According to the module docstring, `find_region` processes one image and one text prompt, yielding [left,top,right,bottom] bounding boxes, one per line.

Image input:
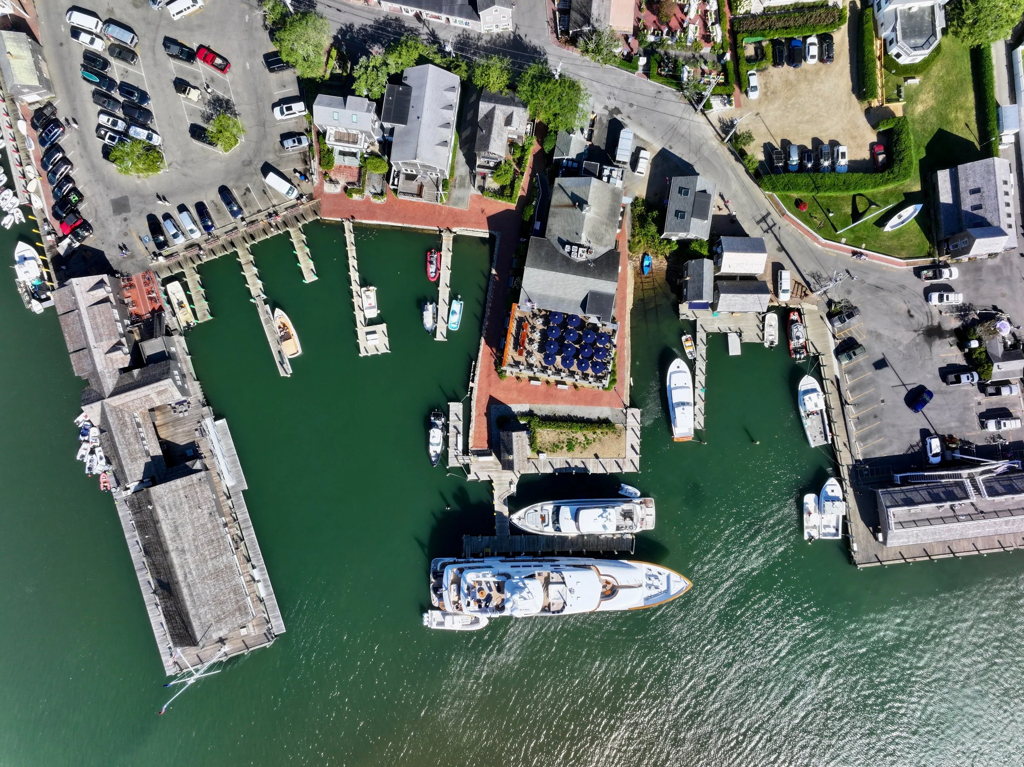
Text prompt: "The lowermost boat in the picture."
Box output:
[425,610,488,630]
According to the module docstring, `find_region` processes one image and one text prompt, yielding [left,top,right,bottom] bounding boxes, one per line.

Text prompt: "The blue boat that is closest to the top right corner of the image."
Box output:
[641,255,653,276]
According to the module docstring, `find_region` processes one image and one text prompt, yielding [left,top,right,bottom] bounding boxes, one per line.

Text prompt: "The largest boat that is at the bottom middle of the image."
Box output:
[431,554,695,617]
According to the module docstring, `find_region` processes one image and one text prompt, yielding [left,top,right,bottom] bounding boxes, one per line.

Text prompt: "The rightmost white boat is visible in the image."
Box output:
[881,204,923,232]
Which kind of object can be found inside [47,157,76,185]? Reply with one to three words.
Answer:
car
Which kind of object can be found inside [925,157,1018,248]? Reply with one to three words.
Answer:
building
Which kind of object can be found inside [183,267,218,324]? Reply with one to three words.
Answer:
pier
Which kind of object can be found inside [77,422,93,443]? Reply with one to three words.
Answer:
boat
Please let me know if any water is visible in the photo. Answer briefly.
Yes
